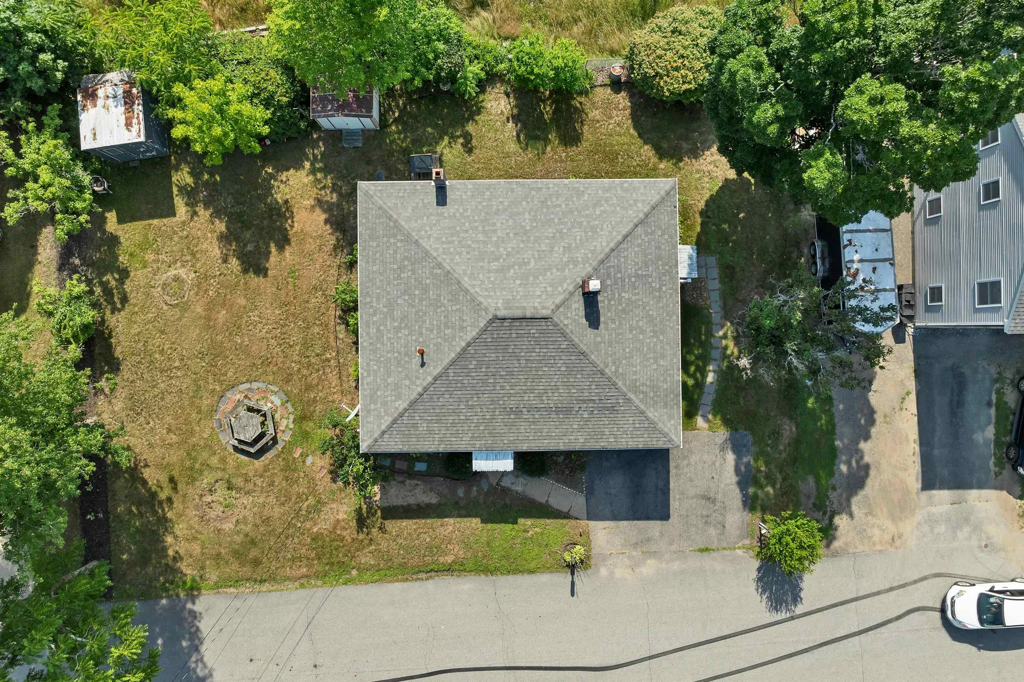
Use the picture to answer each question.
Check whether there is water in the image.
No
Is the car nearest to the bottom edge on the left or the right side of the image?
right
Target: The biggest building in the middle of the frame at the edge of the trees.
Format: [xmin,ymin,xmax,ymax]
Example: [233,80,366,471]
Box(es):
[357,160,699,472]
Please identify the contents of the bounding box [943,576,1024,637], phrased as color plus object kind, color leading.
white car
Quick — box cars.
[943,576,1024,637]
[1003,371,1024,476]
